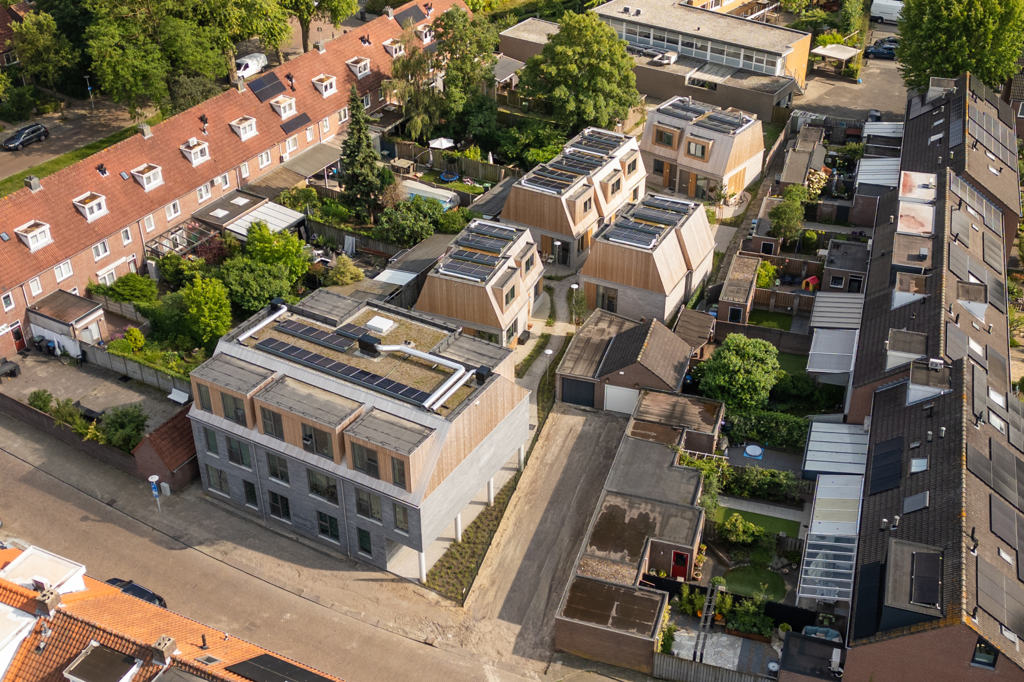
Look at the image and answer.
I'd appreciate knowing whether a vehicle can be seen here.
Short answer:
Yes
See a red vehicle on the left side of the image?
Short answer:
No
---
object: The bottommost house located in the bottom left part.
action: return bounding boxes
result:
[0,538,355,682]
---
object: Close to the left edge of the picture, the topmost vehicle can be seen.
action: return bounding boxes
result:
[0,123,50,151]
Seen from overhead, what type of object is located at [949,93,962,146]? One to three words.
solar array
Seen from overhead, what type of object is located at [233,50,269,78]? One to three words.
van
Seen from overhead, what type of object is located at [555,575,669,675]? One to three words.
building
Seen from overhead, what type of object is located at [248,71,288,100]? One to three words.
solar array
